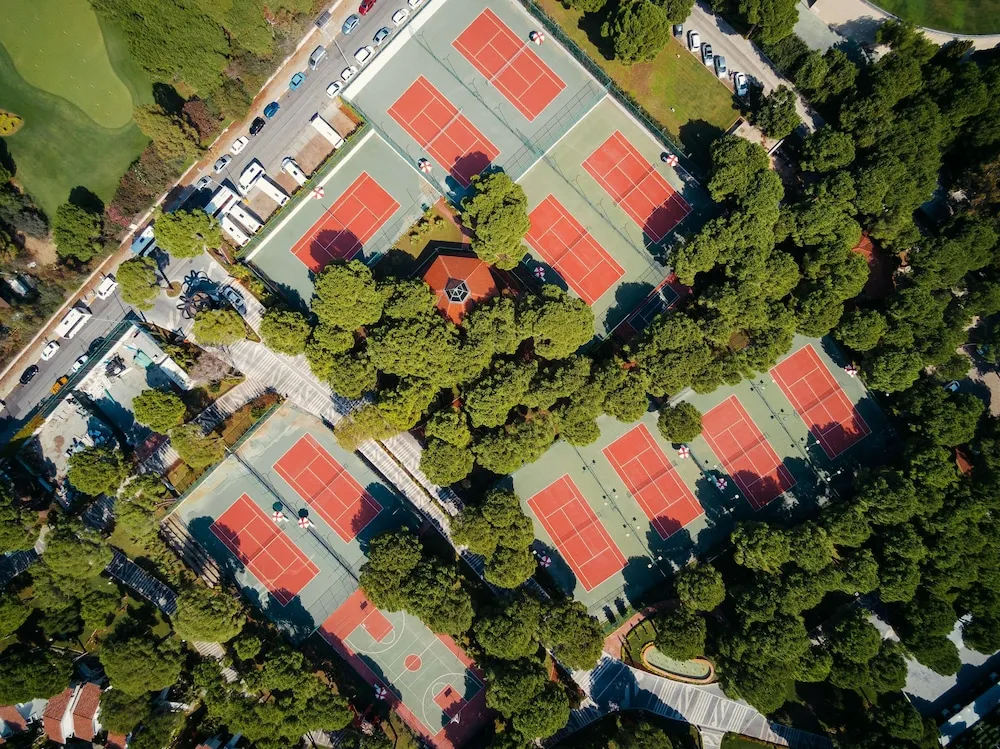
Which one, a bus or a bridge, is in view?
bus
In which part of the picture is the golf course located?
top left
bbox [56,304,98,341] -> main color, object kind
white camper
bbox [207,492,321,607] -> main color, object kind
red tennis court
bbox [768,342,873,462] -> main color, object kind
red tennis court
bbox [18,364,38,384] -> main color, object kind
black car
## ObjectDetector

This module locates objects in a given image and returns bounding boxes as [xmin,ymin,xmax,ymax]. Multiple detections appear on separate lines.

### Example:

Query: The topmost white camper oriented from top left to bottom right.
[309,113,349,152]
